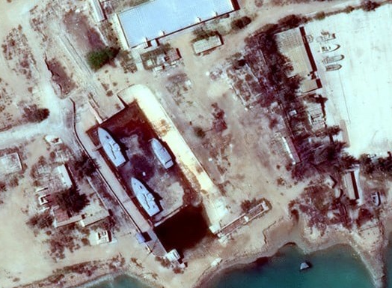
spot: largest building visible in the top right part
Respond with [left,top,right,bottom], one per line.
[274,27,317,78]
